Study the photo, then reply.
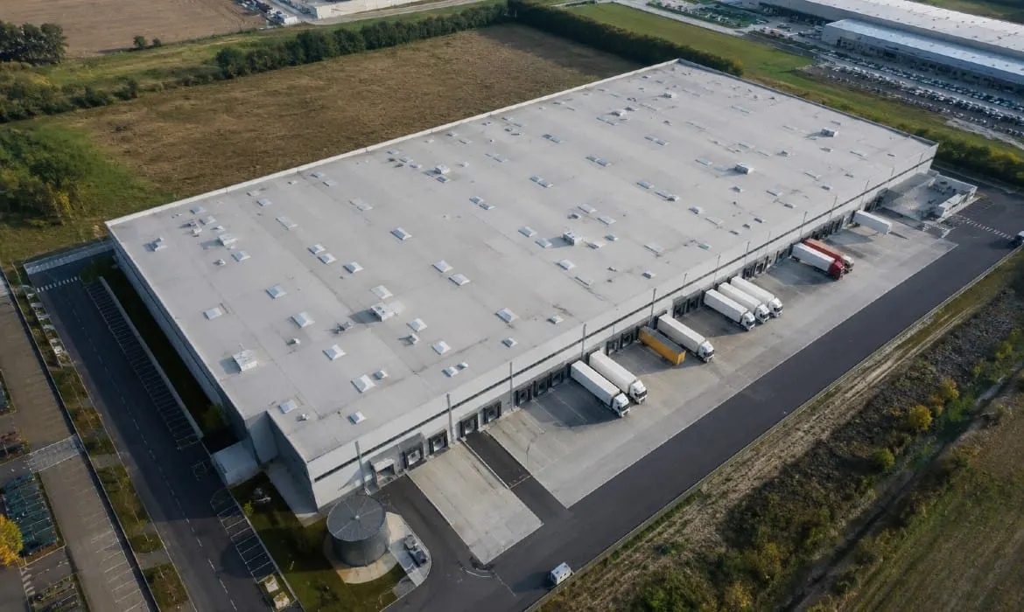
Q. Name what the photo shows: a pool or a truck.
truck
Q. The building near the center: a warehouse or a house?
warehouse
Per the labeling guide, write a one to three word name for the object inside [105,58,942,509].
warehouse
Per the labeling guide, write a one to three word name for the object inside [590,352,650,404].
truck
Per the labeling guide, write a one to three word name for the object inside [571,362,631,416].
truck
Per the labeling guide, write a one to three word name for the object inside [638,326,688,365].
trailer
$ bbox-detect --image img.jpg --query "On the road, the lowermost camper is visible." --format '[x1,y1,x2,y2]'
[549,557,573,581]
